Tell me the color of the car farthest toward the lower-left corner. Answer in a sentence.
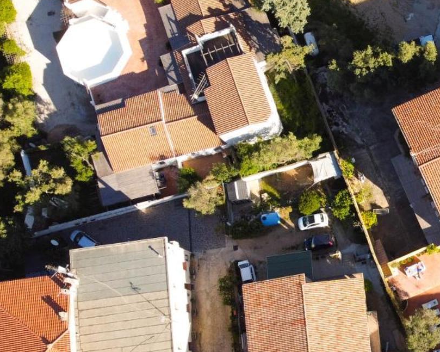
From above, the car farthest toward the lower-left corner appears blue.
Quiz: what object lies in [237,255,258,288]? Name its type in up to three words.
car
